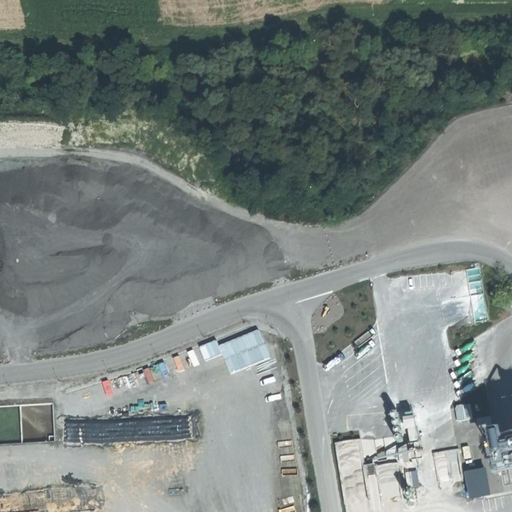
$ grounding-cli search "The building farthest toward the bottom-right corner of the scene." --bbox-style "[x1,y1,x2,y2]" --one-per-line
[464,468,490,500]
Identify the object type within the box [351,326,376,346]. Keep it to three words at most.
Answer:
vehicle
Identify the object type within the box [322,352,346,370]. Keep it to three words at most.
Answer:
vehicle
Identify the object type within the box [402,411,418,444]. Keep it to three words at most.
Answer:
building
